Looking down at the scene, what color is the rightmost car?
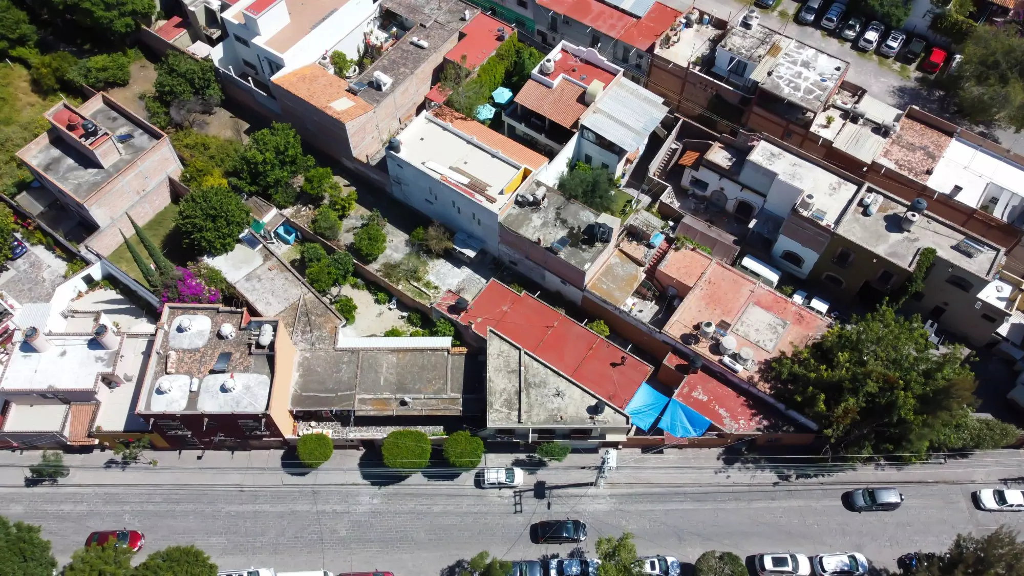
white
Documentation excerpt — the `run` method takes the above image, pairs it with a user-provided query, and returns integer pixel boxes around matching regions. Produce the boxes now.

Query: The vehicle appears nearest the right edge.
[972,486,1024,514]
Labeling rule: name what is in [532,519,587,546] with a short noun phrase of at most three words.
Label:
car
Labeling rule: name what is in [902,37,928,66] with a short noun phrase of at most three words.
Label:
car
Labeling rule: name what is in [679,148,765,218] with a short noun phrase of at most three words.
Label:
house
